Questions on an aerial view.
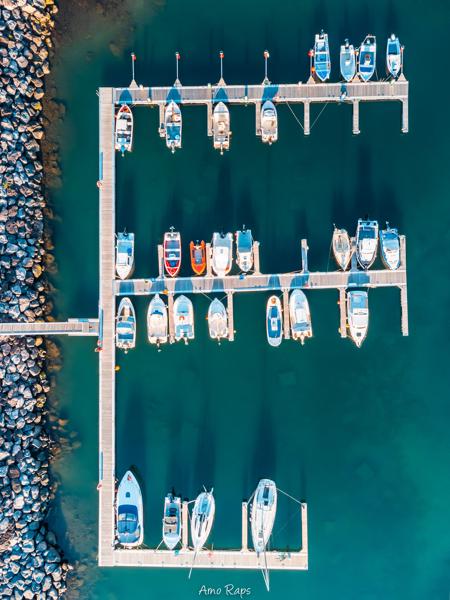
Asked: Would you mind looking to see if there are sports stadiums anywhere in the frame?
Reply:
No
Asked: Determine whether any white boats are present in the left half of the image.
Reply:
Yes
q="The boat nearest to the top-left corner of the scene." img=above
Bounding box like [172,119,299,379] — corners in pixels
[114,104,134,163]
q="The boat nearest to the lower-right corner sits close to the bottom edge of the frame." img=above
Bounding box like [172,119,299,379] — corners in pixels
[248,474,277,592]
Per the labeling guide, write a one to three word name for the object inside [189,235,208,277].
boat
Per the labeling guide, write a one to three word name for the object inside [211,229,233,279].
boat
